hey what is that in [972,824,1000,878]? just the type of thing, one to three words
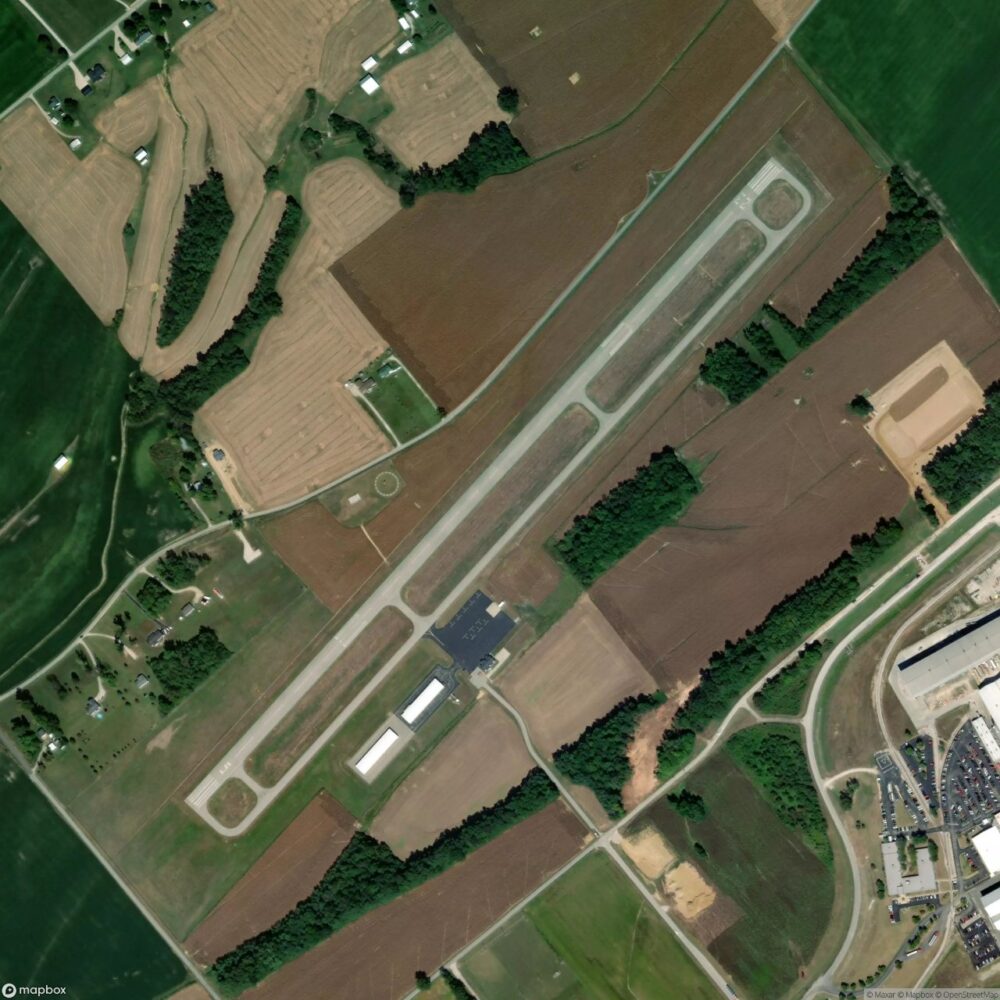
building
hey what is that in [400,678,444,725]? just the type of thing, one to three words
hangar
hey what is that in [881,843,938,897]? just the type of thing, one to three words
building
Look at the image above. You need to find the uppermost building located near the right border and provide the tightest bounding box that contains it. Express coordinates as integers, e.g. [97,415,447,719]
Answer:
[899,618,1000,700]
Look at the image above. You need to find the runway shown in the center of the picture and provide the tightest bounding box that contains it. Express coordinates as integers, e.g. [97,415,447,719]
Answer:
[185,157,784,812]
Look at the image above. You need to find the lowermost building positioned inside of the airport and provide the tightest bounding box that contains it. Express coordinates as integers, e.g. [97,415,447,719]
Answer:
[355,729,398,774]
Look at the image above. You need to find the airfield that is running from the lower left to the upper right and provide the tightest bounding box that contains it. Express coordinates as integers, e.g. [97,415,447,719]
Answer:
[162,131,835,836]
